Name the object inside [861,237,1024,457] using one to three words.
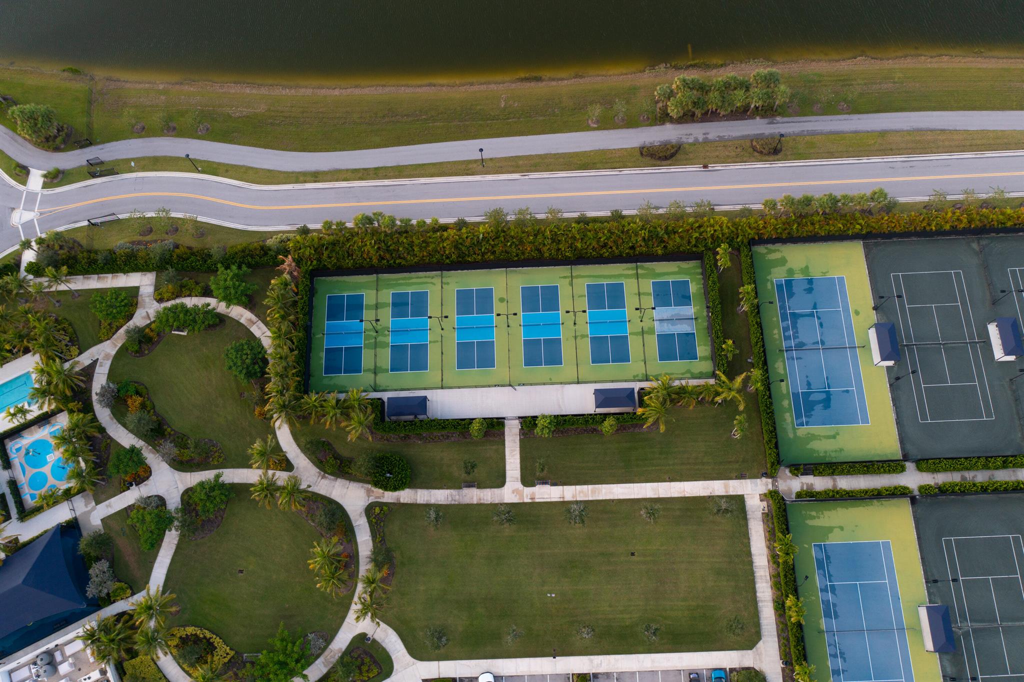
tennis court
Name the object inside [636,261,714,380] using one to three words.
sports court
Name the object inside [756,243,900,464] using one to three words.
tennis court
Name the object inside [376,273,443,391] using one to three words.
sports court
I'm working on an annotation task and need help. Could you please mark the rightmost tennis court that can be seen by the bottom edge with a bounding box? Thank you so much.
[908,494,1024,682]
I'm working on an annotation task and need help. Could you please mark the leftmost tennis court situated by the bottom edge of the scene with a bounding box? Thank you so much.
[791,498,941,682]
